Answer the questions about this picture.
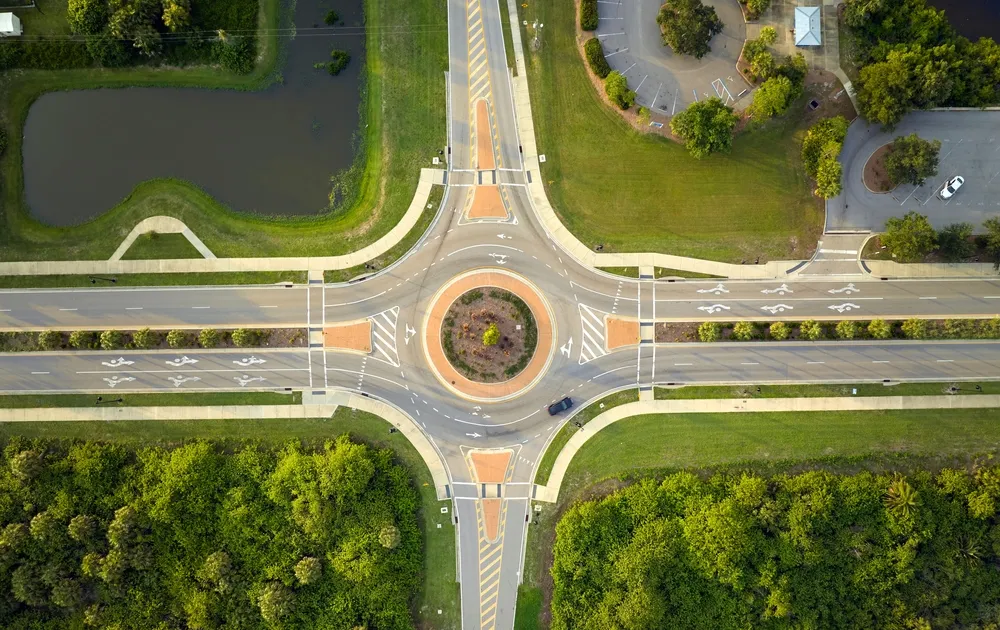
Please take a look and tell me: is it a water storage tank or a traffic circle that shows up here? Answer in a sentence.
There is a traffic circle in the scene.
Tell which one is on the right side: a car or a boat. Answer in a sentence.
It is a car that can be seen on the right side.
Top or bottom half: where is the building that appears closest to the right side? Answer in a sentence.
The building that appears closest to the right side sits in the top half of the picture.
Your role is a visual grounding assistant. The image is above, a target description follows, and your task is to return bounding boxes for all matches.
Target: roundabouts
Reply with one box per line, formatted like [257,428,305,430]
[308,168,655,499]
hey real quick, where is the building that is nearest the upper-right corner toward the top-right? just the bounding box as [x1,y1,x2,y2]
[792,7,821,49]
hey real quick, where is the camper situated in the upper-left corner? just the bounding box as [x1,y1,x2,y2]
[0,14,27,34]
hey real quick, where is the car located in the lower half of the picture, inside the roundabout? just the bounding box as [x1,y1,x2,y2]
[548,397,573,416]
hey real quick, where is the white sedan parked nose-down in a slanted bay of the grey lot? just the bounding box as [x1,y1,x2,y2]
[938,174,966,200]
